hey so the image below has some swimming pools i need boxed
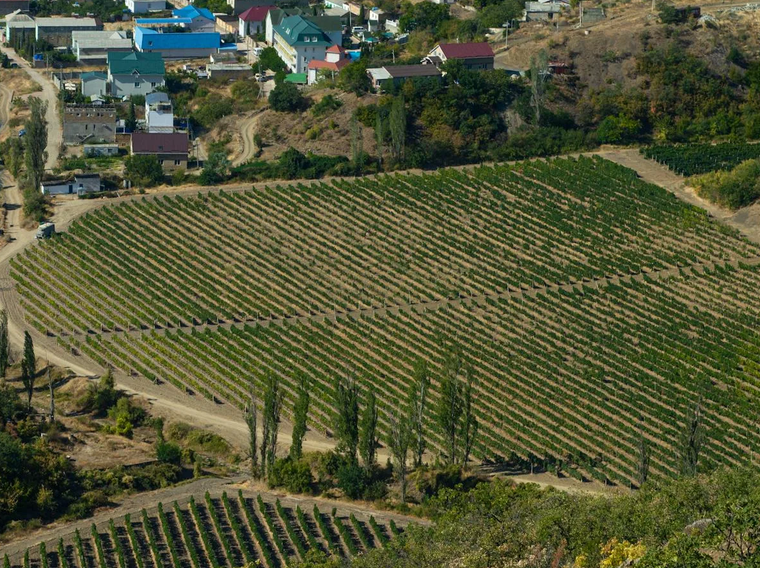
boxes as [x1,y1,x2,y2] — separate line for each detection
[342,54,357,67]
